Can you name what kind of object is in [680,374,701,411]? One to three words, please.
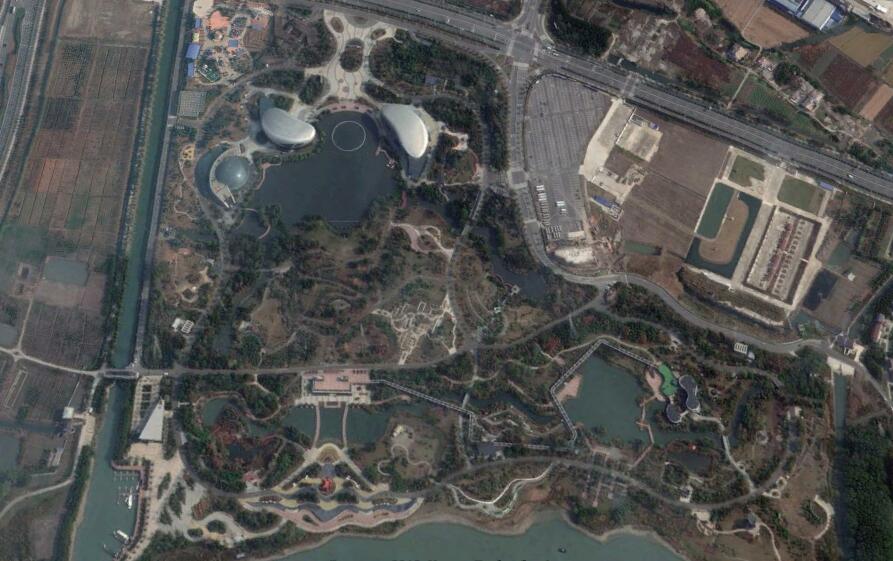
building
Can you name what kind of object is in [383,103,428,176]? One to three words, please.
building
